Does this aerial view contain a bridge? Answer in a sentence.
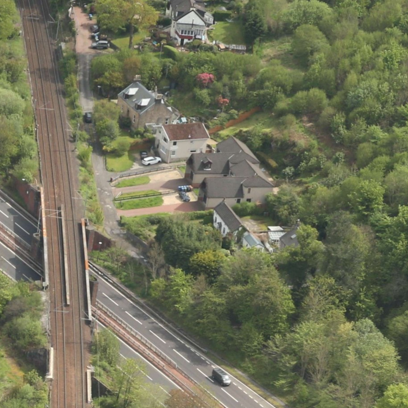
Yes, the frame does contain a bridge.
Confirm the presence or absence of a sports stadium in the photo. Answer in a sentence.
No, the frame has no sports stadium in it.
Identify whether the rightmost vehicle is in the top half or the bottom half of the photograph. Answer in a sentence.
Seen from above, the rightmost vehicle lies in the bottom half of the view.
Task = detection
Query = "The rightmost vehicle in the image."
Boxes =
[212,364,233,384]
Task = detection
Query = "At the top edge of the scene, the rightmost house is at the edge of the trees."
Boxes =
[169,0,220,42]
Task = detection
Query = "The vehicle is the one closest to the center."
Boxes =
[178,187,193,200]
